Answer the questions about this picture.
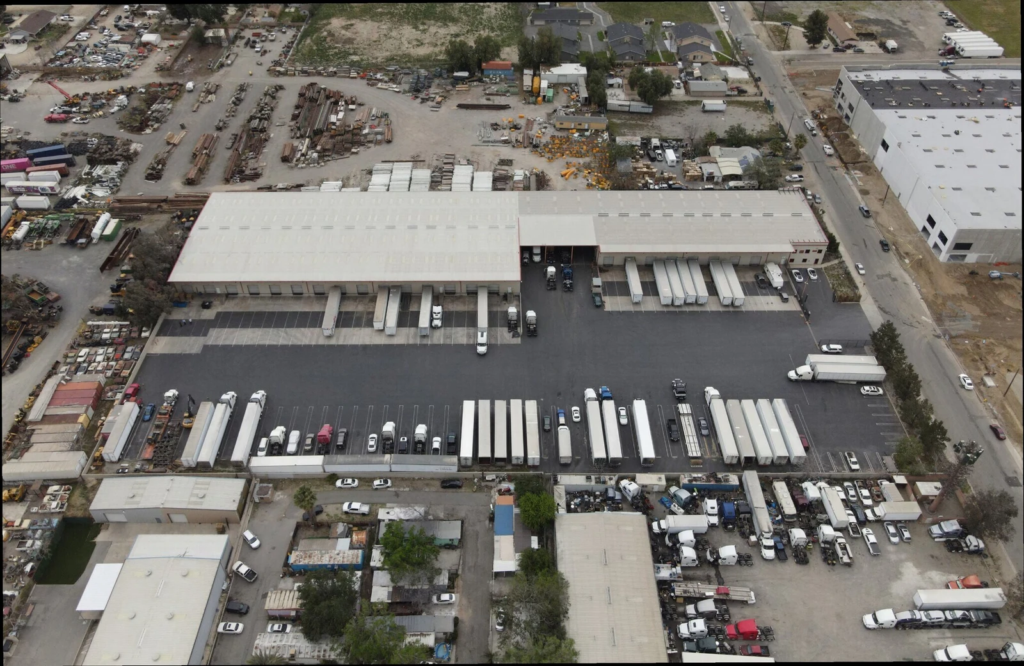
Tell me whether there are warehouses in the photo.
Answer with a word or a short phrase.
Yes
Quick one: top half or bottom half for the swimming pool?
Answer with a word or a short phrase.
bottom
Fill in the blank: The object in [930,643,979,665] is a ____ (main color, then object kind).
white truck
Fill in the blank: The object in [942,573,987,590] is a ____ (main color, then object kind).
red vehicle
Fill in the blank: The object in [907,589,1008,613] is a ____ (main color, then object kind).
white trailer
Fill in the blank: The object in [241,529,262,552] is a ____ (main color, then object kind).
white car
